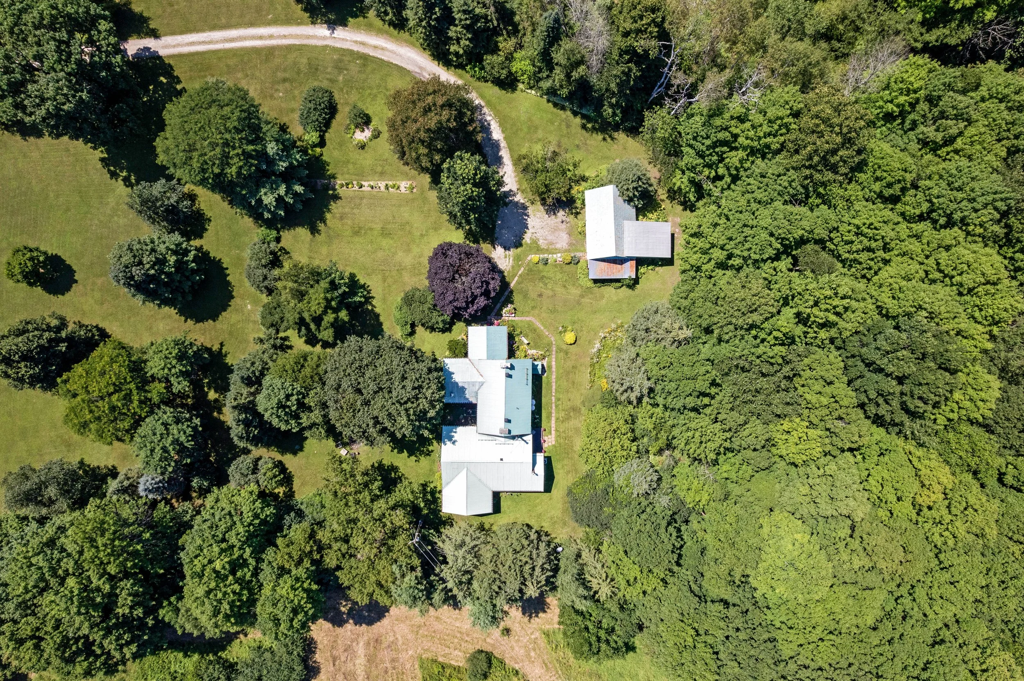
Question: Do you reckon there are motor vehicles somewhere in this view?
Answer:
No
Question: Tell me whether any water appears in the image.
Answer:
No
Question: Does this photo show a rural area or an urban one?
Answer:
rural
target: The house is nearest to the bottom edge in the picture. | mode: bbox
[441,326,547,516]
